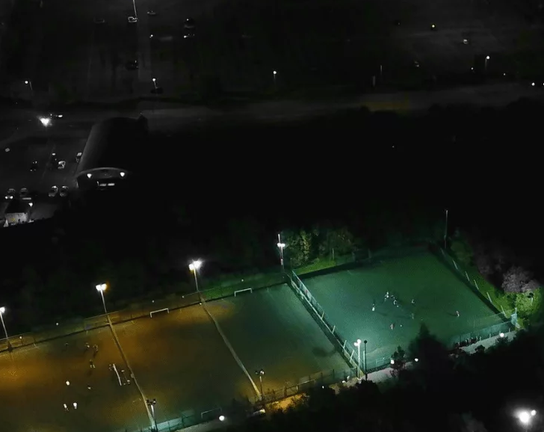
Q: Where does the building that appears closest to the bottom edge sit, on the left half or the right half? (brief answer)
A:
left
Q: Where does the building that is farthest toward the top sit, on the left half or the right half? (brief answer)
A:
left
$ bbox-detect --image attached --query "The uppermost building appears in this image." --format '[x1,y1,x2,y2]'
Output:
[75,100,156,188]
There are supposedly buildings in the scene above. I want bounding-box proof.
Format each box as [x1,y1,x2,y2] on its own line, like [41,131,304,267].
[75,100,156,188]
[1,198,33,224]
